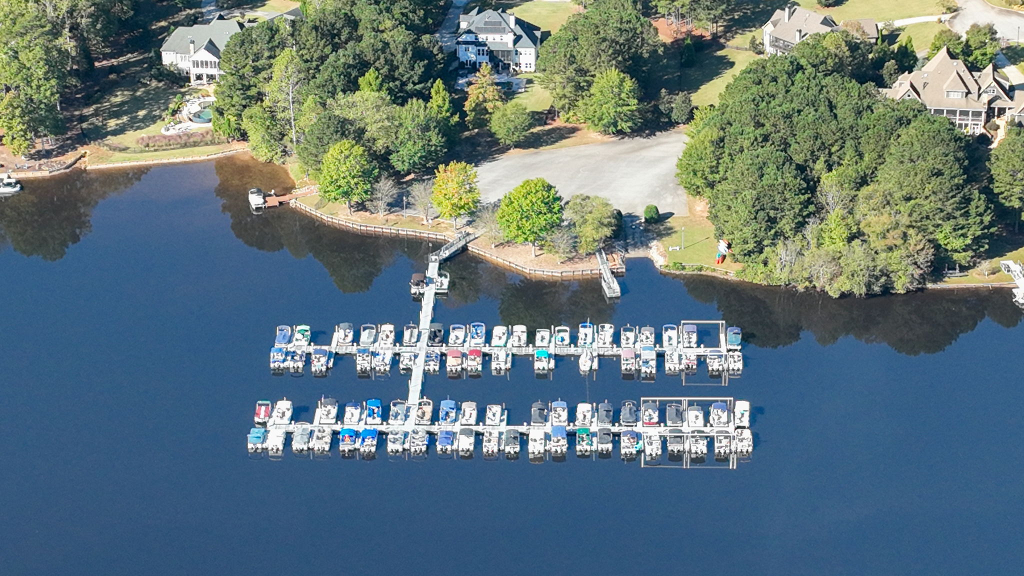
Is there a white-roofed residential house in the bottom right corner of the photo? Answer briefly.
No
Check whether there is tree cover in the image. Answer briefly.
Yes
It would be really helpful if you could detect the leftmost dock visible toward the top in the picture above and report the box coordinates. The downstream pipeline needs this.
[265,184,322,209]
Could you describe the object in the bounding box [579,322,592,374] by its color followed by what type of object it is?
white boat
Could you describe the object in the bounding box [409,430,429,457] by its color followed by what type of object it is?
white boat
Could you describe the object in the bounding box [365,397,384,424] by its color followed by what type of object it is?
blue boat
